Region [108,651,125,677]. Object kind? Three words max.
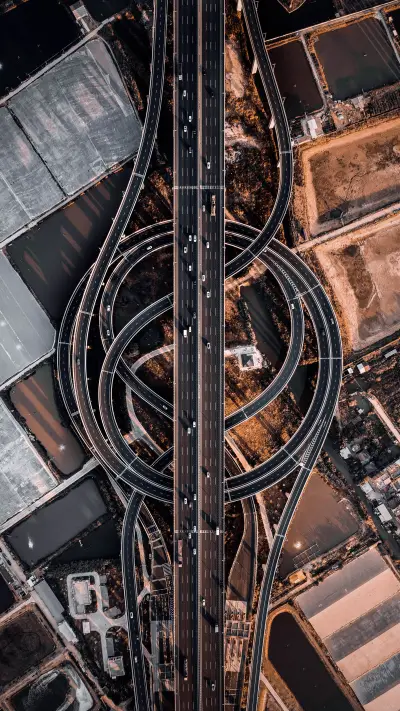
building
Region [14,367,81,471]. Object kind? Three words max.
pond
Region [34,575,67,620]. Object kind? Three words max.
building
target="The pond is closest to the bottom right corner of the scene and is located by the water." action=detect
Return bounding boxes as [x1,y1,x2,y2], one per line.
[271,614,358,711]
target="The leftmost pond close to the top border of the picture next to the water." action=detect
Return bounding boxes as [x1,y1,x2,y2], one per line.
[0,0,80,90]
